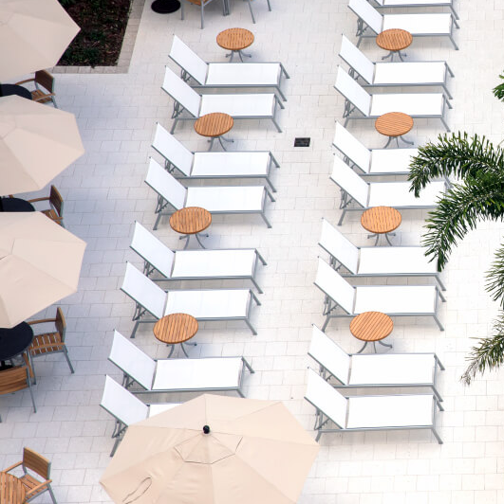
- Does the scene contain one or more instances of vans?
No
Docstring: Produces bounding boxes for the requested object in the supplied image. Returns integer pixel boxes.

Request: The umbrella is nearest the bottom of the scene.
[96,389,326,504]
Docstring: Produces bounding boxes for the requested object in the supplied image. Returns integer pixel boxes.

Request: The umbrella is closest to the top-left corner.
[0,0,78,72]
